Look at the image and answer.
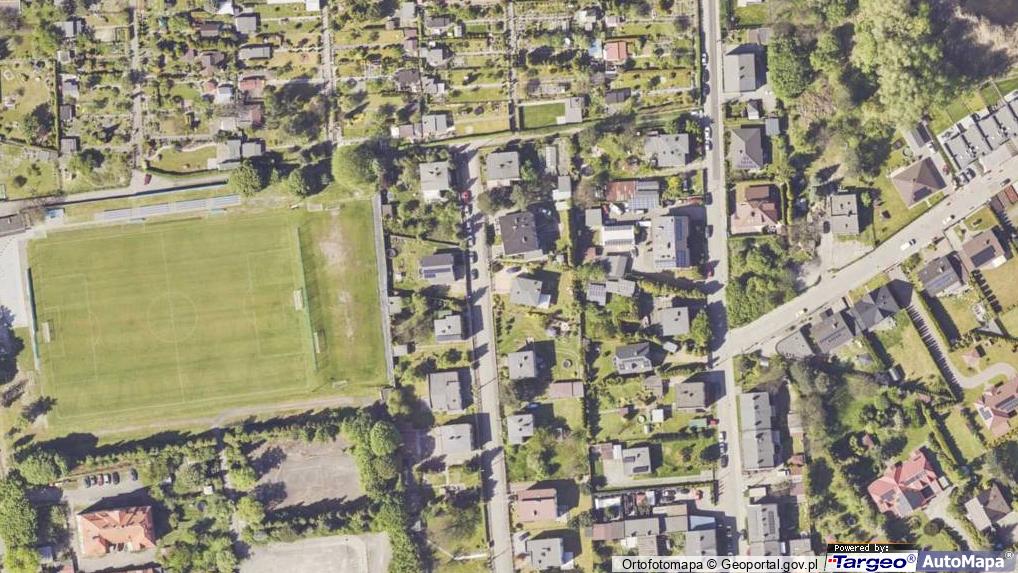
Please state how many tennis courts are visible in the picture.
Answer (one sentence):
There are no tennis courts in this view.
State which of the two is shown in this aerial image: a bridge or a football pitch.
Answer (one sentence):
Visible in the photo is a football pitch.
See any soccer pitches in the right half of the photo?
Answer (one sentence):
No, I see no soccer pitch in the right half of the photo.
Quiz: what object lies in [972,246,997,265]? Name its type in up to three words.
solar panel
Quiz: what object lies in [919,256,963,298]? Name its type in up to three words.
house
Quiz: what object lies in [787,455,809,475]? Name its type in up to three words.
shed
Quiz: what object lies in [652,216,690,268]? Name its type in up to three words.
building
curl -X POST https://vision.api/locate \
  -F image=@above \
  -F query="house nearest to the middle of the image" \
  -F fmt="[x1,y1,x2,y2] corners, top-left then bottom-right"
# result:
[510,276,552,308]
